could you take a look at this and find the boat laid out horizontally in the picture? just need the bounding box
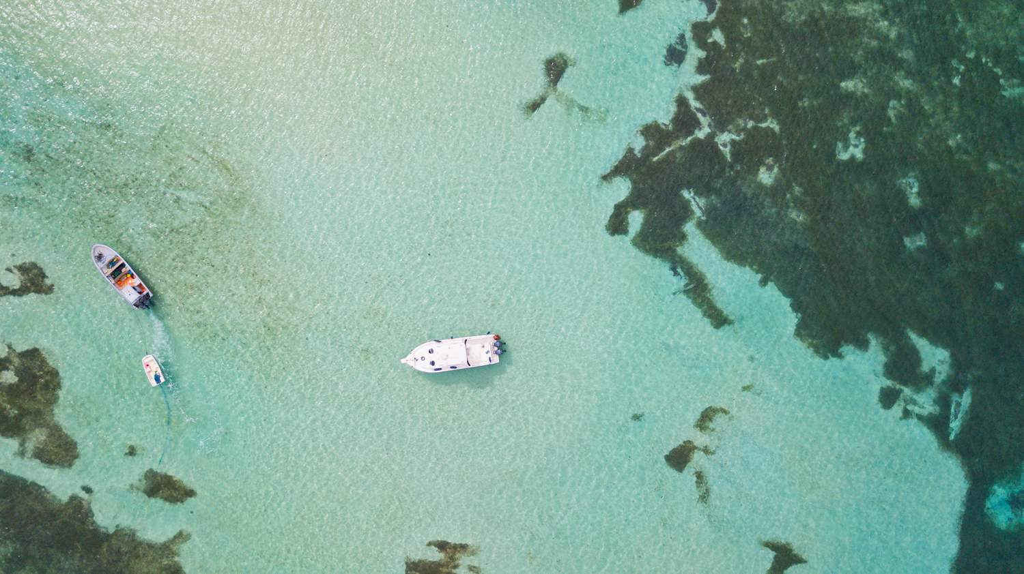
[401,335,510,373]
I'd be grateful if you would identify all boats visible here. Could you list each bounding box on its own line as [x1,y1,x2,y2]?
[401,335,510,373]
[142,354,166,386]
[90,243,154,314]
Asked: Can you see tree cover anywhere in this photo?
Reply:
No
